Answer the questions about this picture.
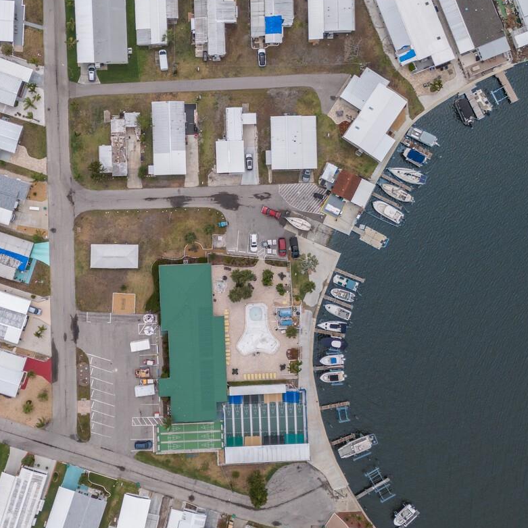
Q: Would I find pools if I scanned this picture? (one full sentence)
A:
Yes, a pool appears in the view.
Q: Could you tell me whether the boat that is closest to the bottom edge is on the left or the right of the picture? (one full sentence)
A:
It is on the right.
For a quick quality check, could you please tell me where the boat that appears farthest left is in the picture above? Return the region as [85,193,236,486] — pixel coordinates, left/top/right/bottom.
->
[284,216,313,229]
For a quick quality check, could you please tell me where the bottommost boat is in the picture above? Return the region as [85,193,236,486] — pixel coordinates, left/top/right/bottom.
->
[395,503,416,523]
